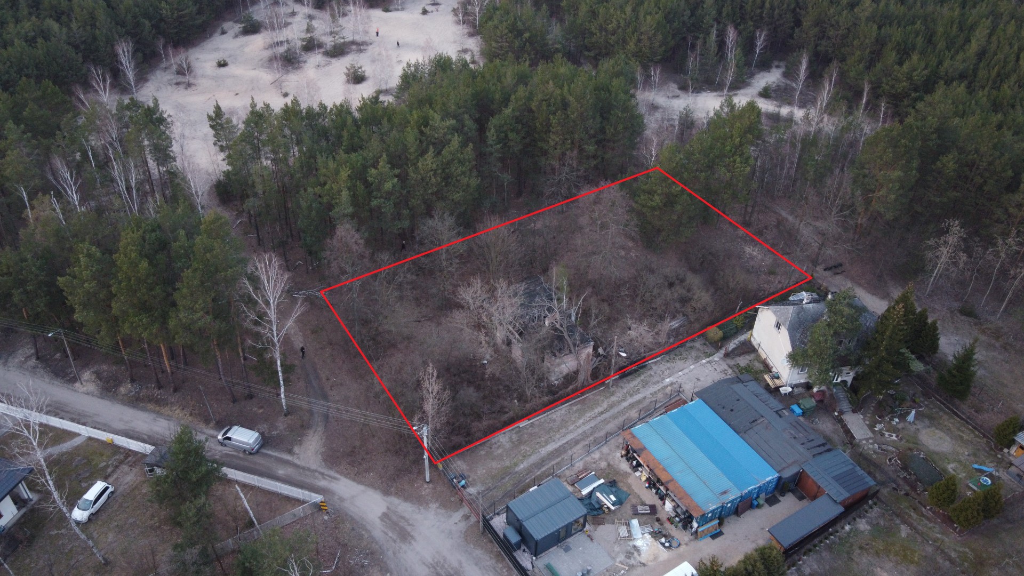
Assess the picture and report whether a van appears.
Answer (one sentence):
Yes, the photo shows a van.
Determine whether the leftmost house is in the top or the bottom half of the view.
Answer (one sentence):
The leftmost house is in the bottom half of the image.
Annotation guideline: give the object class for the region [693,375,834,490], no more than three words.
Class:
building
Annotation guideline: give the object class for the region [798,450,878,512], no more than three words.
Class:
shed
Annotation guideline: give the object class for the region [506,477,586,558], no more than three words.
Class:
building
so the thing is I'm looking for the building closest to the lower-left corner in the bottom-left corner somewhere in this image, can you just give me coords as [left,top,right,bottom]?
[0,460,49,539]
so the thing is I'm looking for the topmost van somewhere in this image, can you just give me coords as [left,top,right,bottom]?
[214,430,262,460]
